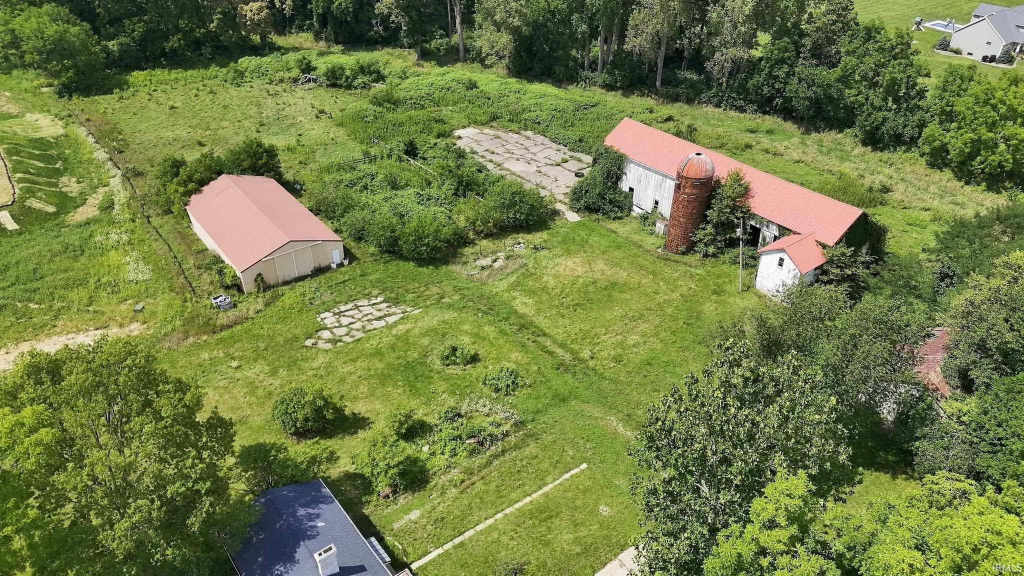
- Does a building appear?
Yes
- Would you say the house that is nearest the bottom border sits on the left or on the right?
left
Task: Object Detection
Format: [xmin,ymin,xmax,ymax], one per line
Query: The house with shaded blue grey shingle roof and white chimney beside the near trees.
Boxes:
[230,479,426,576]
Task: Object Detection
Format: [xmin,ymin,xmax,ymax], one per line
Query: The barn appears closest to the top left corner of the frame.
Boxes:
[180,174,344,294]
